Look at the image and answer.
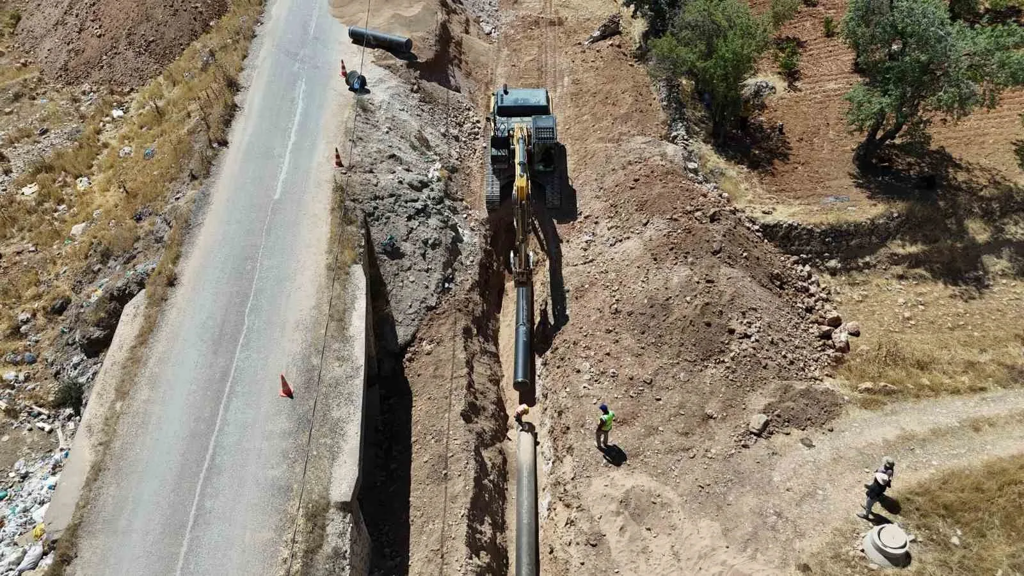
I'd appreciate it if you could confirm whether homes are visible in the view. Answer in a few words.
No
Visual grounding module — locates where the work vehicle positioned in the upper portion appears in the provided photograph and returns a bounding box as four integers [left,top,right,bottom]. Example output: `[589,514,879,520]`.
[482,79,563,280]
